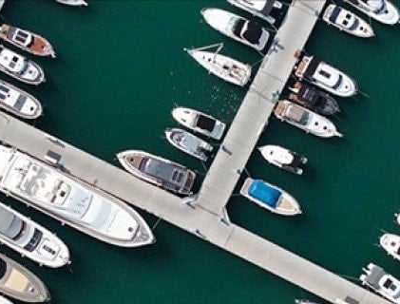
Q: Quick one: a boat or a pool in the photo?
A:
boat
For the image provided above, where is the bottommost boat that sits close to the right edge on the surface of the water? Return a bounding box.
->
[364,266,400,304]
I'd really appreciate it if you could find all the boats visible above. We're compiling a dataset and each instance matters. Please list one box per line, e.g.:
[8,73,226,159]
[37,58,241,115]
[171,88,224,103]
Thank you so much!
[0,77,46,117]
[114,149,212,203]
[323,3,381,42]
[372,235,400,263]
[227,0,289,29]
[281,76,342,115]
[57,0,95,6]
[272,100,343,141]
[199,6,277,51]
[0,47,47,85]
[364,266,400,304]
[0,141,172,262]
[169,108,231,139]
[257,144,308,175]
[291,52,360,101]
[0,200,74,265]
[0,20,59,62]
[338,0,400,24]
[235,174,309,220]
[0,251,55,302]
[163,128,212,165]
[183,47,255,85]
